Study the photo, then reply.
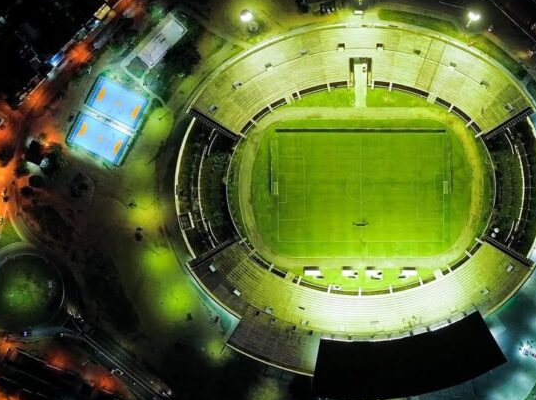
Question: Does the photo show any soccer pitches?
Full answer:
Yes, the image includes a soccer pitch.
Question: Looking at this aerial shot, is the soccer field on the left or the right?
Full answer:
The soccer field appears in the right half of the scene.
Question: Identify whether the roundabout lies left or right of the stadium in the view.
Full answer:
Looking at the picture, you'll find the roundabout to the left of the stadium.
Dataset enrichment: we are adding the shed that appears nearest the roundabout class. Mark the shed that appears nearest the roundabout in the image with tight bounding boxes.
[2,341,70,381]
